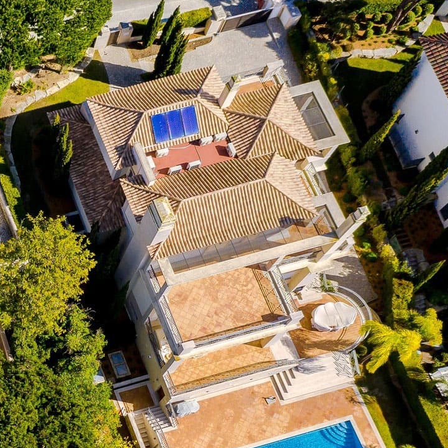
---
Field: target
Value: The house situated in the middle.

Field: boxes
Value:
[49,59,368,401]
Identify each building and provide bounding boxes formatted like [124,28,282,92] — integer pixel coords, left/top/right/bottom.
[49,59,368,401]
[393,30,448,236]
